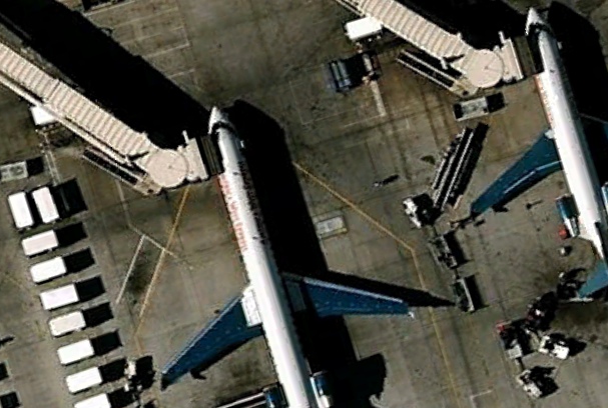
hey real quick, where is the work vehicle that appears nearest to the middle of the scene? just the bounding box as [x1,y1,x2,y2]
[401,197,423,225]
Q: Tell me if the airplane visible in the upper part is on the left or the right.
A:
right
